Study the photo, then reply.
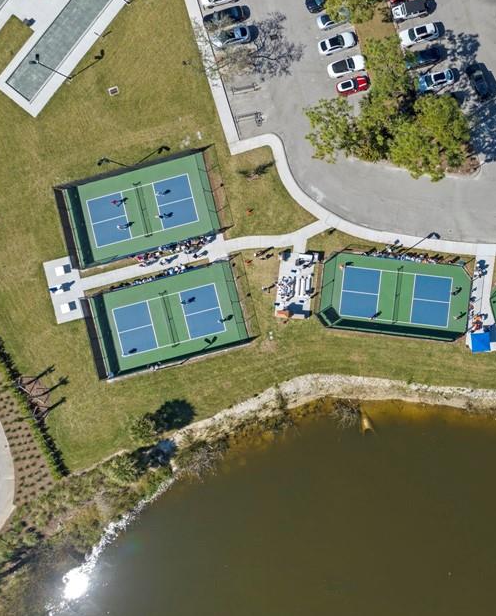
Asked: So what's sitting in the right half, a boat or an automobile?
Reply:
automobile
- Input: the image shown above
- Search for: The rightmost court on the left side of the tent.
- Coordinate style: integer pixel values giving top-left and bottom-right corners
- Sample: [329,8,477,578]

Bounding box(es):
[319,251,472,342]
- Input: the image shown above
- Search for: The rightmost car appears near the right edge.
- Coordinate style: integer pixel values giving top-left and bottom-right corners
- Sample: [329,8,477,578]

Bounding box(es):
[466,60,492,100]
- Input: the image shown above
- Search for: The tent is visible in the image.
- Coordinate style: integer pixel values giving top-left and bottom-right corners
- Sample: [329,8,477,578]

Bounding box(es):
[471,332,491,353]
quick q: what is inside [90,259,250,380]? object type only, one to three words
sports court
